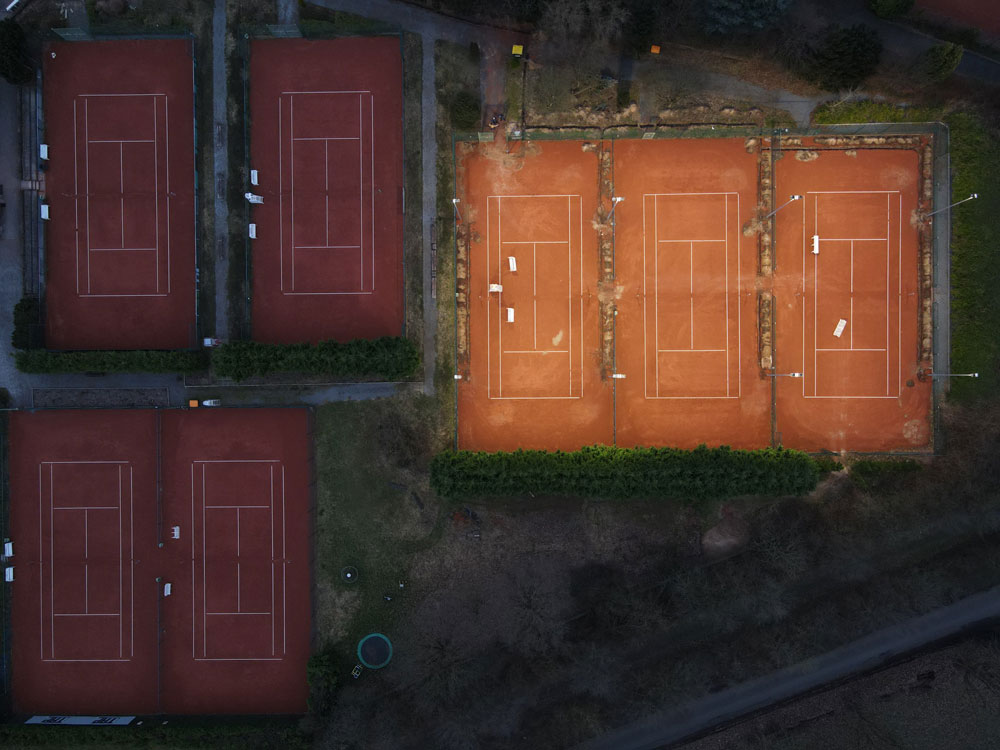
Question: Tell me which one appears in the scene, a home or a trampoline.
trampoline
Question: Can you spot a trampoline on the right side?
No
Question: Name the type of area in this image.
sports ground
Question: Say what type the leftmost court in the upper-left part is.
tennis court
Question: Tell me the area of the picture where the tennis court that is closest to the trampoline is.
bottom left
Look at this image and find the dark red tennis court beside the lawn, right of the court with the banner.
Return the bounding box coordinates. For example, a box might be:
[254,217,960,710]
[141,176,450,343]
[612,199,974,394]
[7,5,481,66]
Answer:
[160,408,310,714]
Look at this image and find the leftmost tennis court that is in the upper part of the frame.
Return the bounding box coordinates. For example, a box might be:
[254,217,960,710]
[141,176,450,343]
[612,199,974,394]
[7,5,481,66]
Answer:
[42,39,197,350]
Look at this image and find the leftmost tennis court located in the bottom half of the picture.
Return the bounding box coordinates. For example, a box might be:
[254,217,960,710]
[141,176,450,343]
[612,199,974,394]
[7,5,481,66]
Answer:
[9,409,160,714]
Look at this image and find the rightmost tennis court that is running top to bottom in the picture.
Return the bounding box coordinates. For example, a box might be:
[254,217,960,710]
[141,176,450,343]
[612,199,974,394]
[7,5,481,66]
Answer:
[776,150,920,452]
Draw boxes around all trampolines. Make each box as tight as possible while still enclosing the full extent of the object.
[356,634,392,669]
